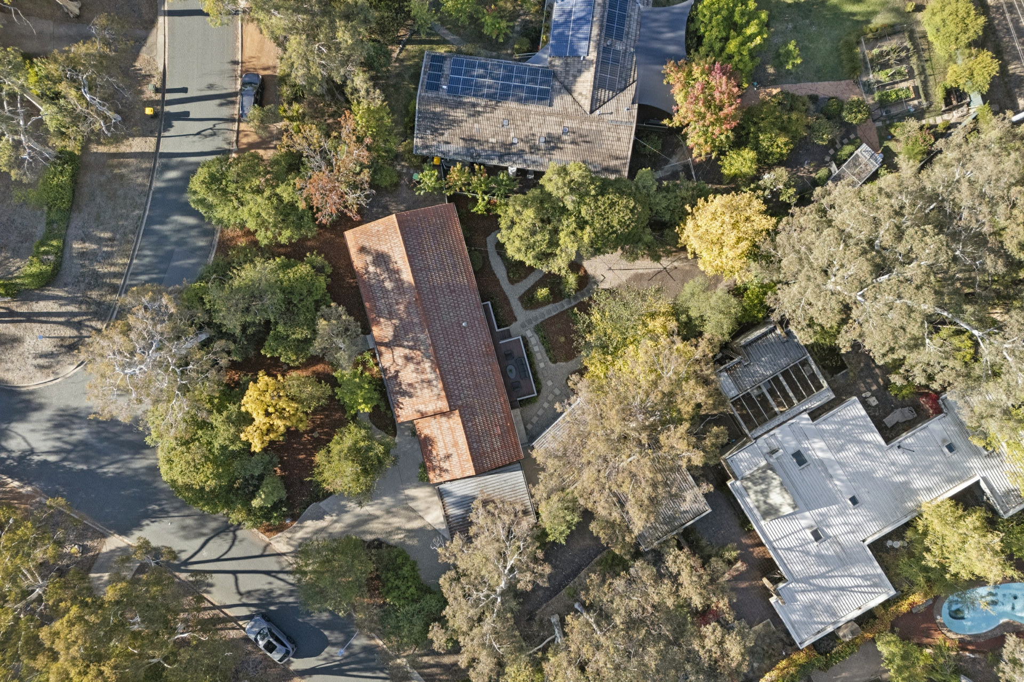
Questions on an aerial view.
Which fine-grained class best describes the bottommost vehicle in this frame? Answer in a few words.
automobile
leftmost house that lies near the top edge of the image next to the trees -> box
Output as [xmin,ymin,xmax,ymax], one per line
[412,0,643,182]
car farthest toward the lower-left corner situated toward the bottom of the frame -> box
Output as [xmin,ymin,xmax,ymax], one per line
[238,609,303,669]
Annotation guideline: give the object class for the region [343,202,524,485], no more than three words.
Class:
house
